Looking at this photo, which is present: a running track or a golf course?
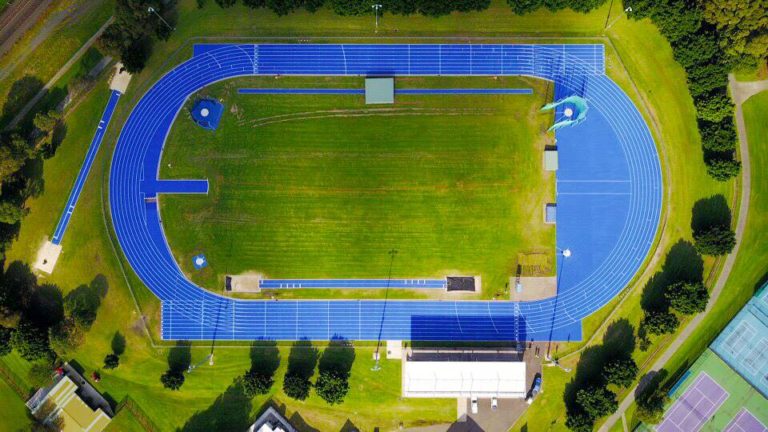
running track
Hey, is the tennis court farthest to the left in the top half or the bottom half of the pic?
bottom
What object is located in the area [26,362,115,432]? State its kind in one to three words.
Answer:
building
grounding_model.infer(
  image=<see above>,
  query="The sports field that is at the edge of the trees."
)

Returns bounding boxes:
[158,75,558,300]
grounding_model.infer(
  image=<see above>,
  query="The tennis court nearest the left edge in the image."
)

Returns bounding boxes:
[655,371,730,432]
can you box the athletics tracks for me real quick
[109,44,661,340]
